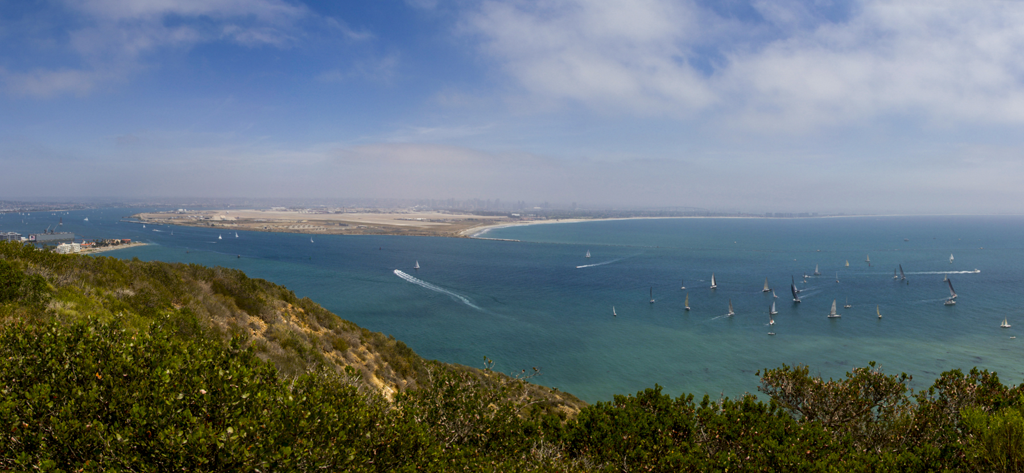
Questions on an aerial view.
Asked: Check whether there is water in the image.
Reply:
Yes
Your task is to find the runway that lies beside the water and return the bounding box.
[142,209,506,224]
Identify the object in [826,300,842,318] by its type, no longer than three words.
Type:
boat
